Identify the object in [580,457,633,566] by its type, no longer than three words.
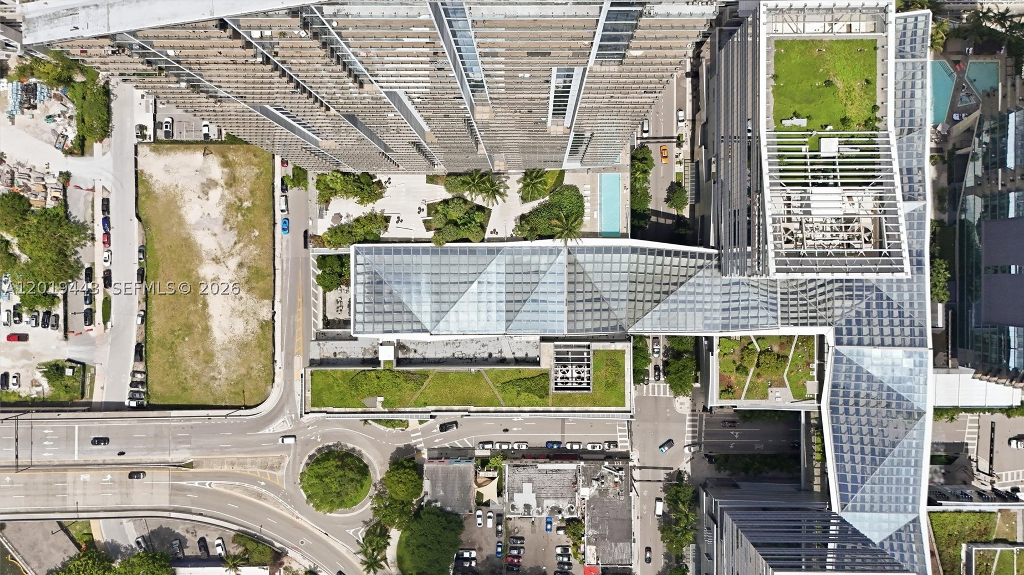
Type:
building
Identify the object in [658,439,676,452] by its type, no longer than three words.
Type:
vehicle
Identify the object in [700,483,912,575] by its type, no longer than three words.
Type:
building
